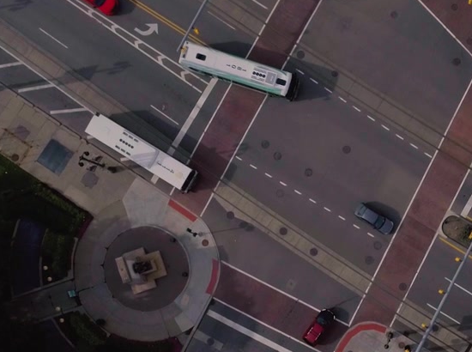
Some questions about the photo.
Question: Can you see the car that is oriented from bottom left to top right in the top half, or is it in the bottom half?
bottom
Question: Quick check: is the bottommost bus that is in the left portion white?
Yes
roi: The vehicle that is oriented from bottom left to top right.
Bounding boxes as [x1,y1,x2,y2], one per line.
[301,309,335,347]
